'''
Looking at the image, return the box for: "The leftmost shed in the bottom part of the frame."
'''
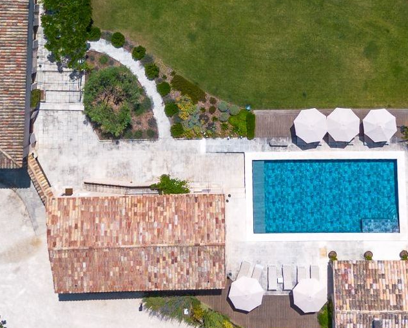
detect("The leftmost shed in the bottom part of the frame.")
[45,184,227,294]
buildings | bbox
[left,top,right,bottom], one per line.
[332,250,408,328]
[45,184,227,294]
[0,0,48,171]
